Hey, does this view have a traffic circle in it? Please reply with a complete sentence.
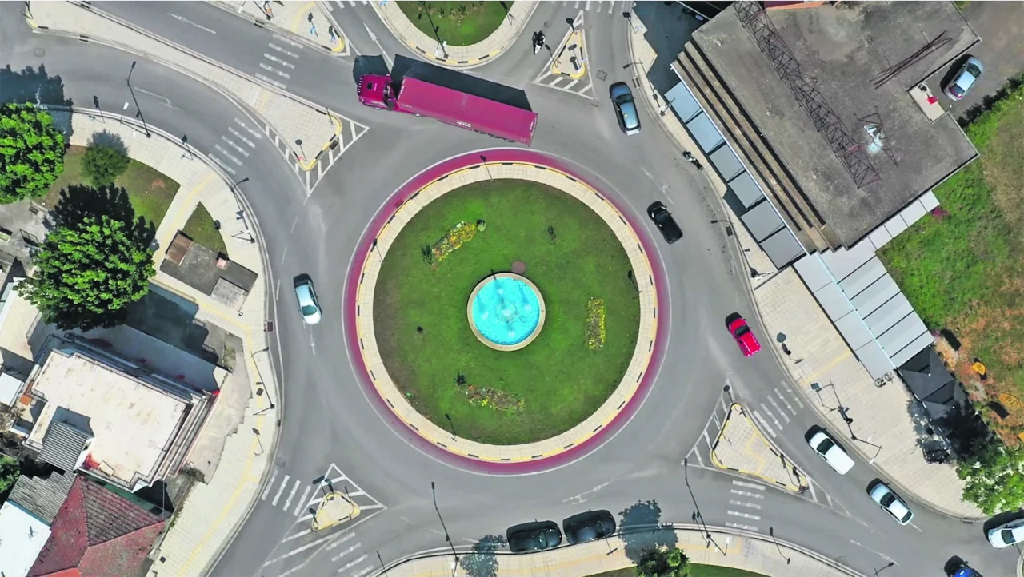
Yes, the frame does contain a traffic circle.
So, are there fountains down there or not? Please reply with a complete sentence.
Yes, this view includes a fountain.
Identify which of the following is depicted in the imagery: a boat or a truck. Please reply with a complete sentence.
I can see a truck in this picture.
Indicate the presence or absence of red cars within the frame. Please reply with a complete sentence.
Yes, the picture does show a red car.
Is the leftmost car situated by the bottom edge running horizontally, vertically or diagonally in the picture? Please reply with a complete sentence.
Seen from above, the leftmost car situated by the bottom edge lies horizontally.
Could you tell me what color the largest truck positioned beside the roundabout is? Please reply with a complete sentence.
The largest truck positioned beside the roundabout looks pink in the image.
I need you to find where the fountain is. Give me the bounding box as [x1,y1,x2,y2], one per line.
[467,273,545,351]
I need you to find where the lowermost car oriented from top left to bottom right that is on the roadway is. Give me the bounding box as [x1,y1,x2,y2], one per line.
[869,483,915,526]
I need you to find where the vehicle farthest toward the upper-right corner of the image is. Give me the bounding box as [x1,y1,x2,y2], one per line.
[945,58,985,101]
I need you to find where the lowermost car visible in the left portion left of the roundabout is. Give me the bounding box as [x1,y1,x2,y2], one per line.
[293,278,321,325]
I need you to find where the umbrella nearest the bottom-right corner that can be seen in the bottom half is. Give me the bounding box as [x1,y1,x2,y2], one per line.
[923,380,981,436]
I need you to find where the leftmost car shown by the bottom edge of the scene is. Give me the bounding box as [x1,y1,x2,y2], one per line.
[510,526,560,552]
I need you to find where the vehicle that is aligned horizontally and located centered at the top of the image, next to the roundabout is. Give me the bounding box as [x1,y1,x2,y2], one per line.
[358,72,537,146]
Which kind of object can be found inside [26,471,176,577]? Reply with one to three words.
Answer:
house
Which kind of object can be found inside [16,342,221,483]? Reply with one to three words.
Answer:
building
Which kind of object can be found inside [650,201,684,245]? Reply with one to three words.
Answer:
car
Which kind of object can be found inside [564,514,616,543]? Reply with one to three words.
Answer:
car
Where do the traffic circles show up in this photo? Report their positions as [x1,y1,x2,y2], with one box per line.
[342,148,670,476]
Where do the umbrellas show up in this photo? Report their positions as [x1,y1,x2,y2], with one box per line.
[923,380,981,436]
[898,346,954,401]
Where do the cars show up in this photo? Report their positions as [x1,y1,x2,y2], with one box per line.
[510,526,560,552]
[729,316,763,358]
[945,58,985,101]
[809,431,854,475]
[293,278,321,325]
[986,515,1024,546]
[666,0,706,28]
[952,565,980,577]
[610,85,641,136]
[869,483,915,526]
[650,201,684,245]
[564,514,616,543]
